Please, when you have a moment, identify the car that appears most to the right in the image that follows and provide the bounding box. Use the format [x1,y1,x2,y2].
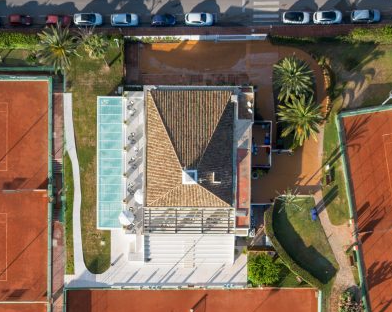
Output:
[352,7,381,22]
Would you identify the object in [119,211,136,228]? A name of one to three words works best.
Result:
umbrella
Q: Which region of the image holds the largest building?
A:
center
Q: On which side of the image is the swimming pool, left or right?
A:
left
